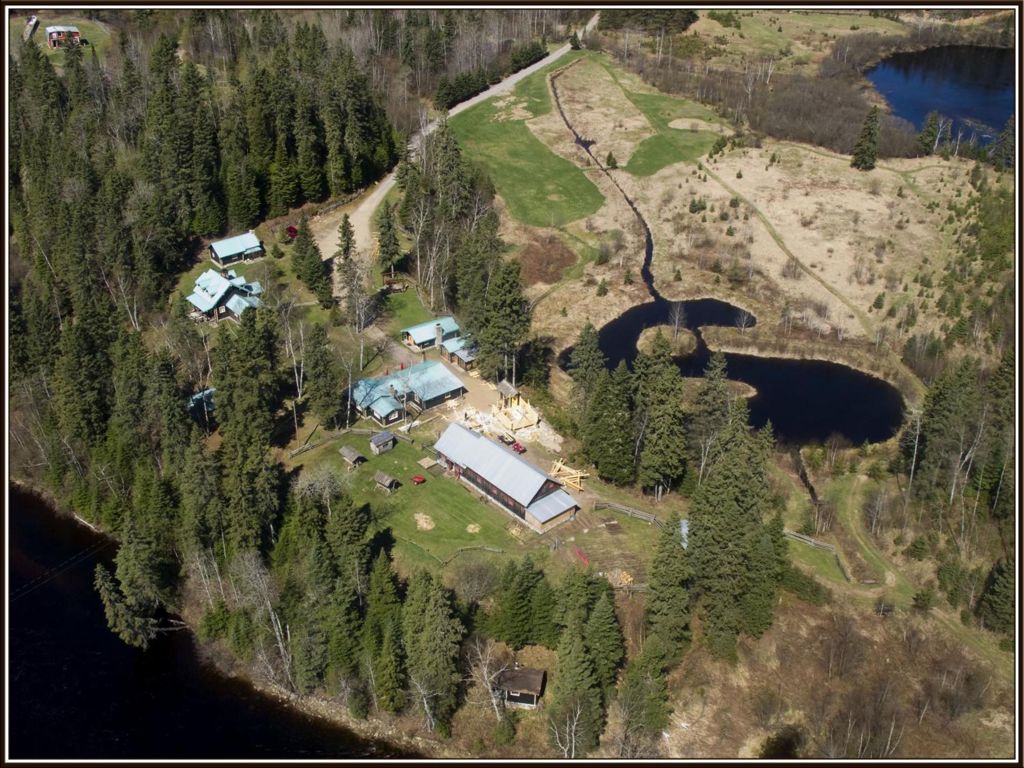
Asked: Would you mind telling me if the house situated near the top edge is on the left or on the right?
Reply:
left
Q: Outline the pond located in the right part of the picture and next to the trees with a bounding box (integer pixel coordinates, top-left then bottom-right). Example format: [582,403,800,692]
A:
[558,286,907,461]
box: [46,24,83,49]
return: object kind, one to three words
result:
house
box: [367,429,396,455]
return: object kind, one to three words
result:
shed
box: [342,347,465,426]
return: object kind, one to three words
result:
building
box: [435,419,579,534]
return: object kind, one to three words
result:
barn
